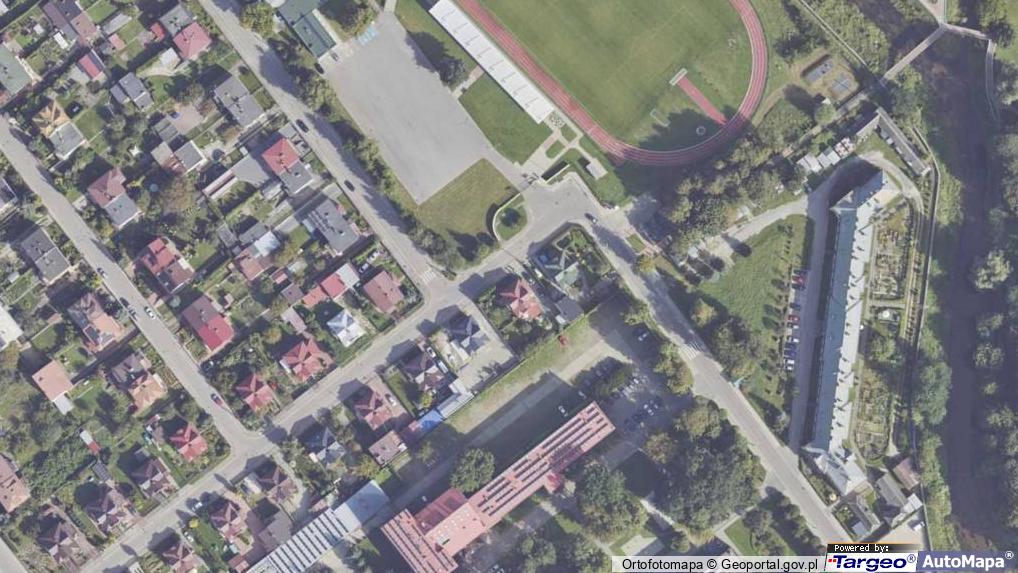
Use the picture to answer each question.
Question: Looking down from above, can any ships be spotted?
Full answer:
No, no ship is visible in the scene.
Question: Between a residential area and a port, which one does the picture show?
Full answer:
What you see here is a residential area.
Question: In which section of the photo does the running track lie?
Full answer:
Look in the top portion of the view to spot the running track.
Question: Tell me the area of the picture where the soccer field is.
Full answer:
The soccer field is located in the top region of the scene.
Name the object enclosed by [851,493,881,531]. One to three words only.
shed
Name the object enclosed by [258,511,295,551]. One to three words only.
building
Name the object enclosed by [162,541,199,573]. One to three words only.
house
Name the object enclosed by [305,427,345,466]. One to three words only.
house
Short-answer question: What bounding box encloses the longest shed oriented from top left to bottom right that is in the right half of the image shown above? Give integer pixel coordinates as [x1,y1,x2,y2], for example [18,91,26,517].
[881,112,931,175]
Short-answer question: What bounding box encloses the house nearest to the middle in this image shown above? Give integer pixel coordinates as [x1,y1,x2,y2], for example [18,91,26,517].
[500,281,544,322]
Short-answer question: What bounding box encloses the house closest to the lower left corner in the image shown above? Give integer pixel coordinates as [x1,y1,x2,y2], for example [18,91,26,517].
[39,520,81,564]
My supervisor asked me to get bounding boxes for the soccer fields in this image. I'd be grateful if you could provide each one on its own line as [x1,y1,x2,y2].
[477,0,752,150]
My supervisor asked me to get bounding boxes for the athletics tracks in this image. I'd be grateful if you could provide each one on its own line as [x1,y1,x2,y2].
[458,0,767,166]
